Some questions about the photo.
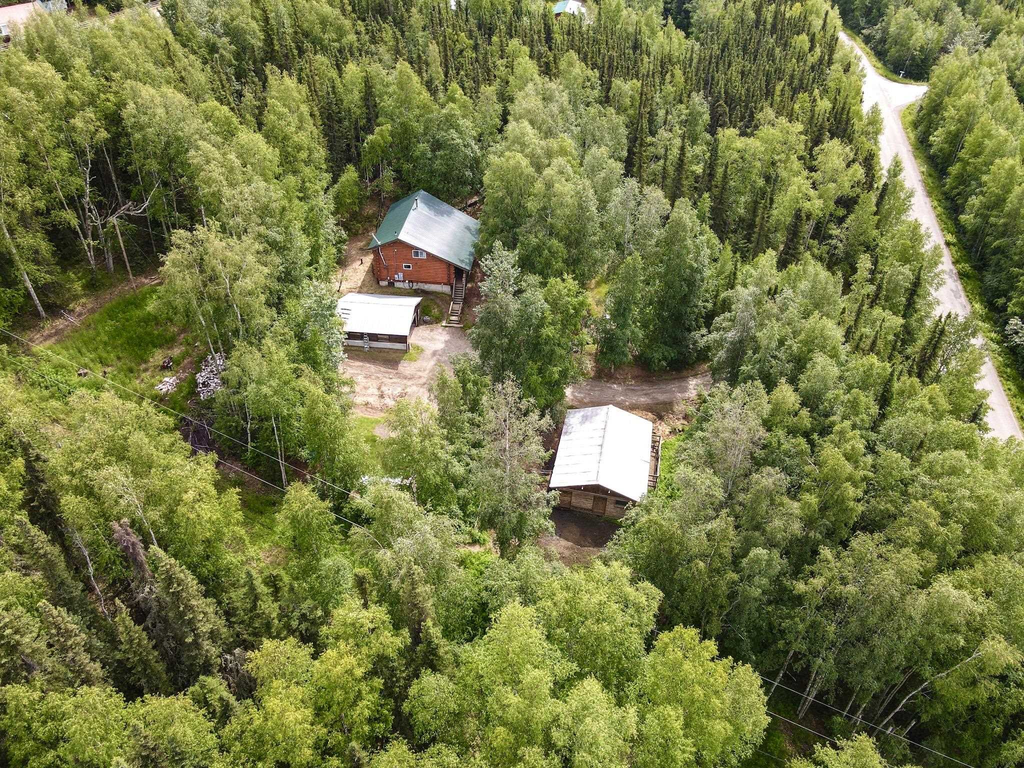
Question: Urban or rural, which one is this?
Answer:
rural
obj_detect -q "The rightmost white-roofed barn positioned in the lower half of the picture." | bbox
[549,404,651,518]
